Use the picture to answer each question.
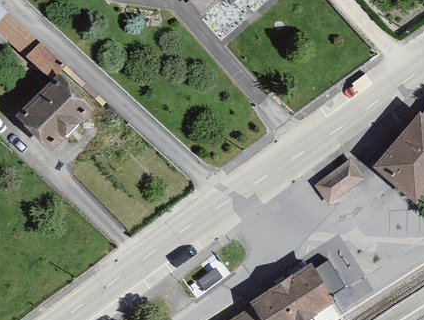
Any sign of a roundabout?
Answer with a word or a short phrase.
No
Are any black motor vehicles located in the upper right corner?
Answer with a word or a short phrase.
No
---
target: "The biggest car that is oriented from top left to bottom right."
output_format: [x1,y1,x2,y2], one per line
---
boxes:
[7,132,28,152]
